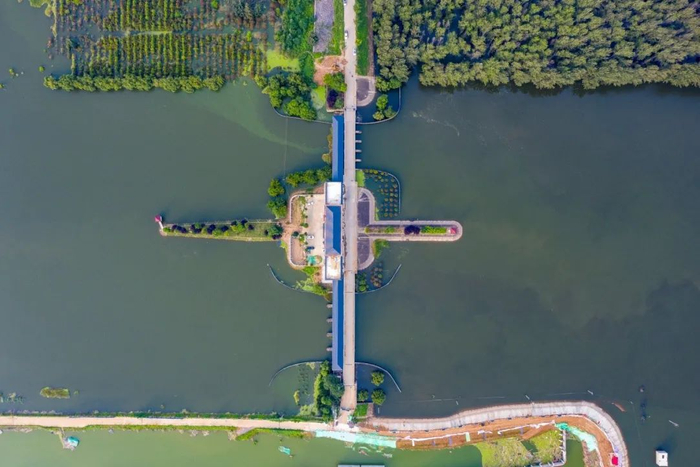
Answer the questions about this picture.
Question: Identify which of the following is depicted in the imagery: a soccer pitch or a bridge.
bridge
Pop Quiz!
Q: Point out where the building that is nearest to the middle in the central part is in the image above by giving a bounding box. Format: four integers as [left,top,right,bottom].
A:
[323,180,344,282]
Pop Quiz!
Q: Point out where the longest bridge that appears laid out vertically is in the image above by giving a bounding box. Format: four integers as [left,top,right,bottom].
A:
[327,112,361,387]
